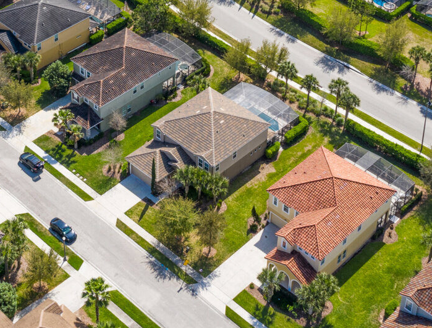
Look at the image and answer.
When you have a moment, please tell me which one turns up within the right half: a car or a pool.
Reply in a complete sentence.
The feature located within the right half is a pool.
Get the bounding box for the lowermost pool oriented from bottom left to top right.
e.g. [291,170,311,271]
[379,196,408,228]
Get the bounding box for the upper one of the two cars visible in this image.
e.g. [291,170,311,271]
[17,150,46,174]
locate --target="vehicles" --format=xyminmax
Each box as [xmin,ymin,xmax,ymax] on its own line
[48,216,77,242]
[17,150,46,174]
